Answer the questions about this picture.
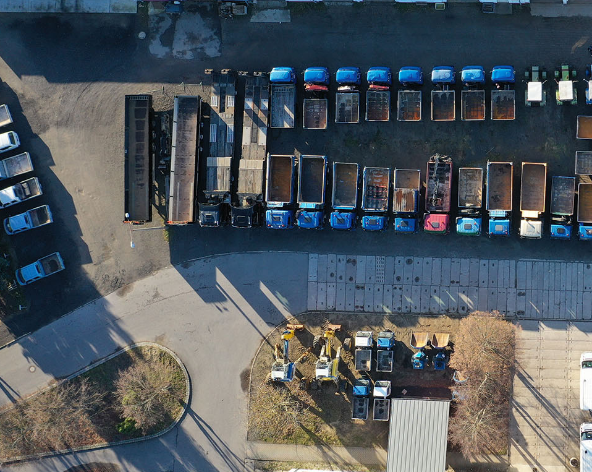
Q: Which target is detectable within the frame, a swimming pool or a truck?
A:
truck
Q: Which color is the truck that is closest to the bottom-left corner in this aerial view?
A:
blue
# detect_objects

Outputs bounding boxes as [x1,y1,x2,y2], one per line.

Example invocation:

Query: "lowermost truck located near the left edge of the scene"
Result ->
[16,253,68,285]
